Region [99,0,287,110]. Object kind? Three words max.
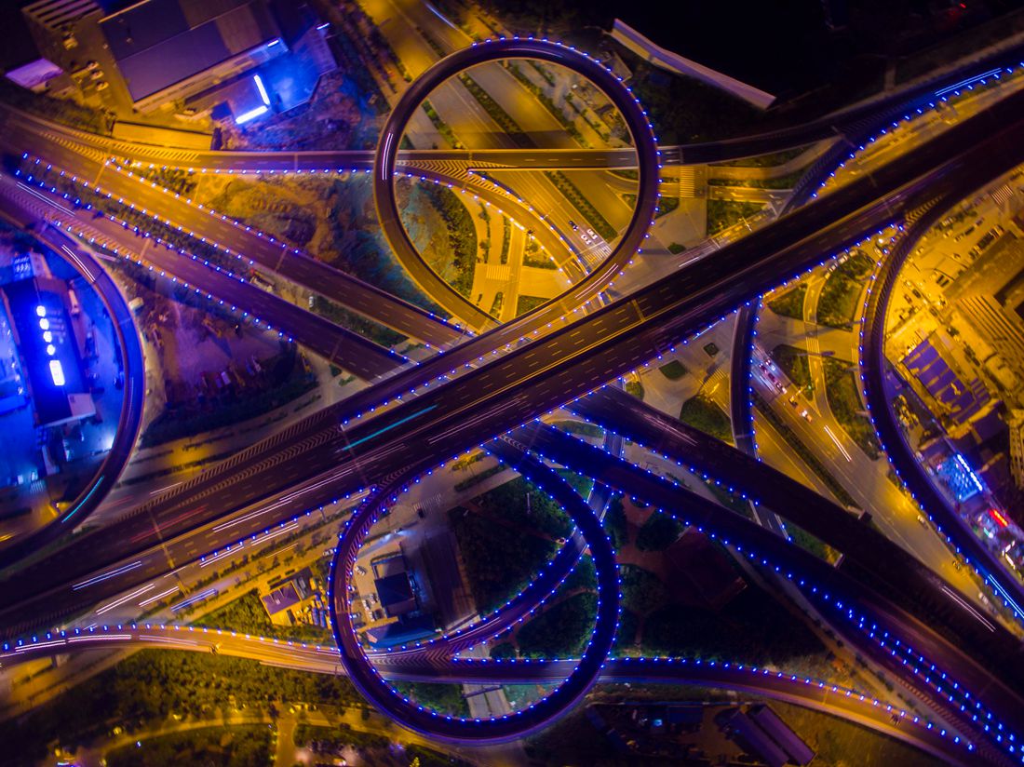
building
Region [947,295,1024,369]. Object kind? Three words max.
building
